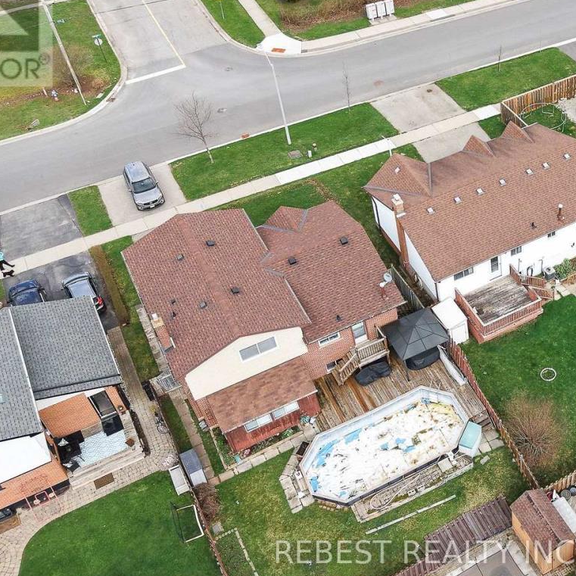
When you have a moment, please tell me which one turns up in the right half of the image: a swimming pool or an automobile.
swimming pool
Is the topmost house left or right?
right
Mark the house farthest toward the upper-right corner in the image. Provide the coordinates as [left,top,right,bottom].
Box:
[362,122,576,305]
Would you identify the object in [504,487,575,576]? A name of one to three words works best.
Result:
shed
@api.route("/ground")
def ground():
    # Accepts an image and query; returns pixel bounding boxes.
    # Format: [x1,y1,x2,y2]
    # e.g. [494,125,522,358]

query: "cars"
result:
[57,261,108,306]
[0,266,52,308]
[116,158,164,213]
